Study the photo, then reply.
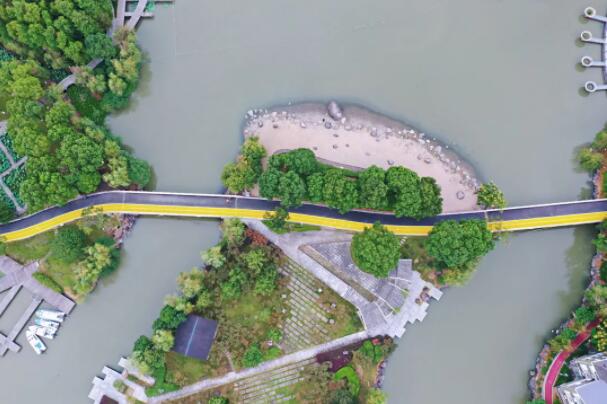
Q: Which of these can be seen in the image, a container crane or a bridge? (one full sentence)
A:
The image shows a bridge.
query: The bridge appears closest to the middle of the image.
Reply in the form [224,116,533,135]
[147,191,222,219]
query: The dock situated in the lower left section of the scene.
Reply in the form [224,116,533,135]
[0,256,76,360]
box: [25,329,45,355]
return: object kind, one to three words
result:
boat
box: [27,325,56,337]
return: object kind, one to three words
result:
boat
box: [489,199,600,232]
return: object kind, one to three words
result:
bridge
